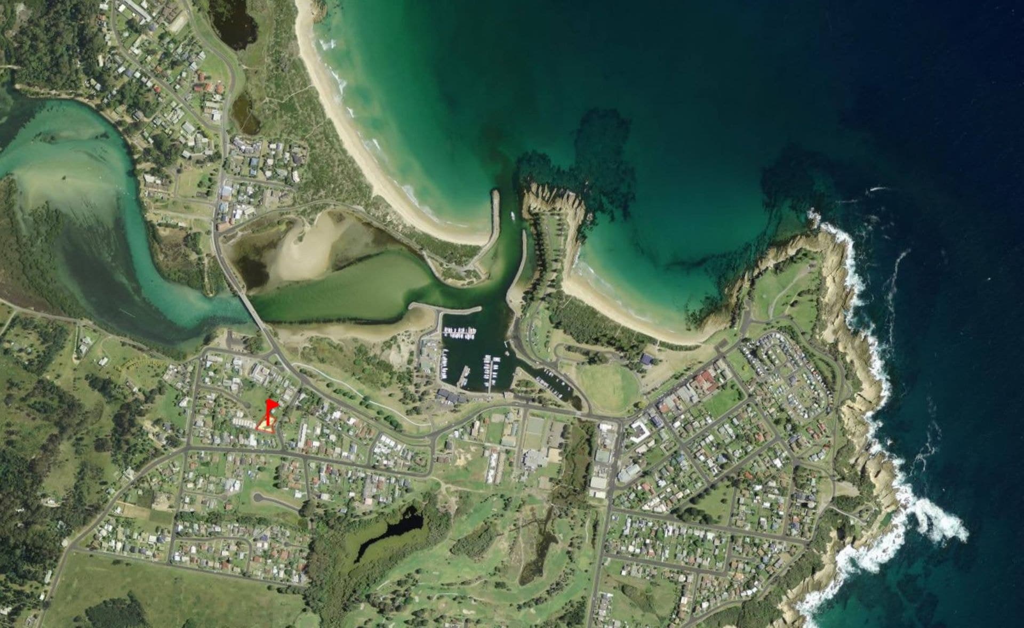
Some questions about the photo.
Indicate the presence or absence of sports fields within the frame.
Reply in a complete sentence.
Yes, the frame does contain a sports field.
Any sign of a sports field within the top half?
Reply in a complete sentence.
No, no sports field appears within the top half.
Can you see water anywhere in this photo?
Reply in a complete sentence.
Yes, the picture does contain water.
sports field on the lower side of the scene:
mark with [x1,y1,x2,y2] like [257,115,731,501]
[576,363,641,415]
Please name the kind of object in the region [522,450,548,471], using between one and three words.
building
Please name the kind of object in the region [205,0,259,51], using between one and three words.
pond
